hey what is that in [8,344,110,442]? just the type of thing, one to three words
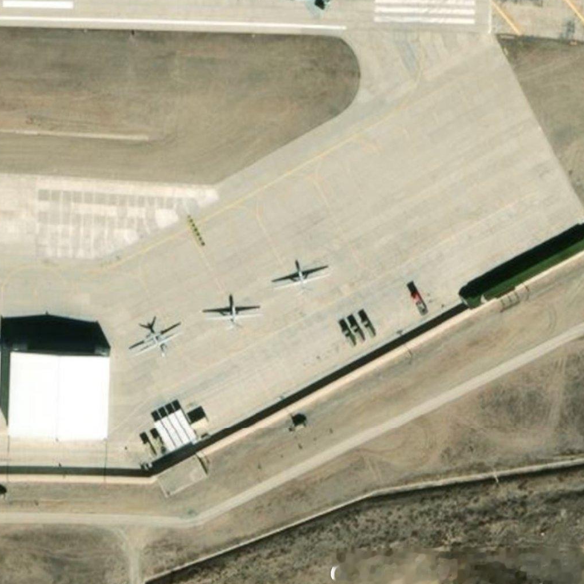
hangar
